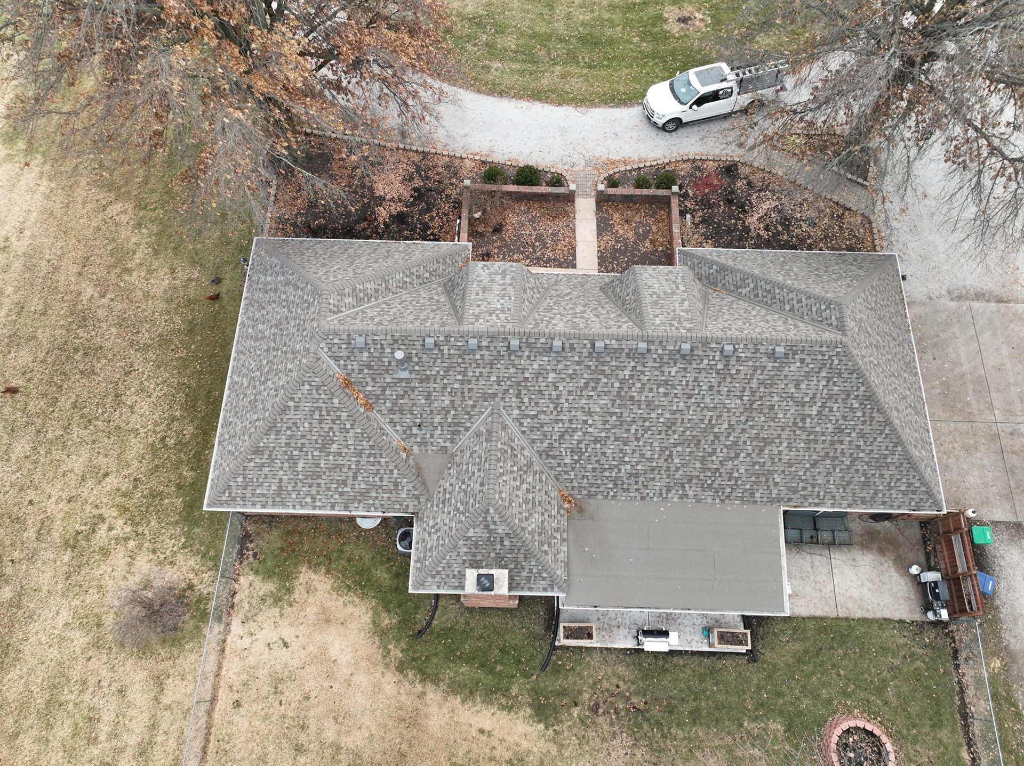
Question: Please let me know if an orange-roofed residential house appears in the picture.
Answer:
No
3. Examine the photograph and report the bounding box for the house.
[203,237,946,615]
